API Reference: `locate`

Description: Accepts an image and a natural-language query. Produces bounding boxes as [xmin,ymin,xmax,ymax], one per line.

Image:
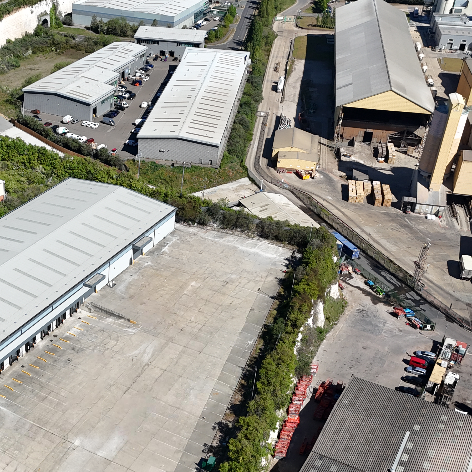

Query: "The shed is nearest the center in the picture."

[237,193,321,234]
